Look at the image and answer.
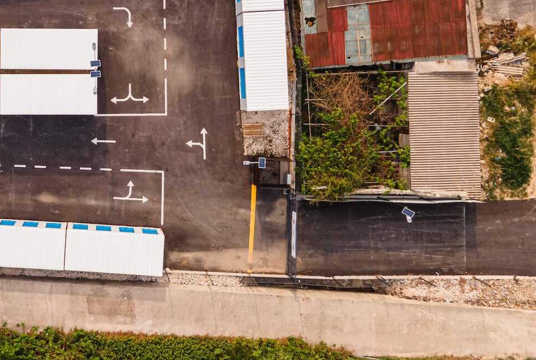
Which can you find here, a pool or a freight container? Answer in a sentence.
It is a freight container that can be seen here.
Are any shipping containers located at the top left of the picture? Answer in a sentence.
Yes, at the top left of the picture there is a shipping container.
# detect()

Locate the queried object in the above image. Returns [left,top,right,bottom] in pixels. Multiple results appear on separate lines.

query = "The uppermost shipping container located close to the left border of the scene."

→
[0,29,97,69]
